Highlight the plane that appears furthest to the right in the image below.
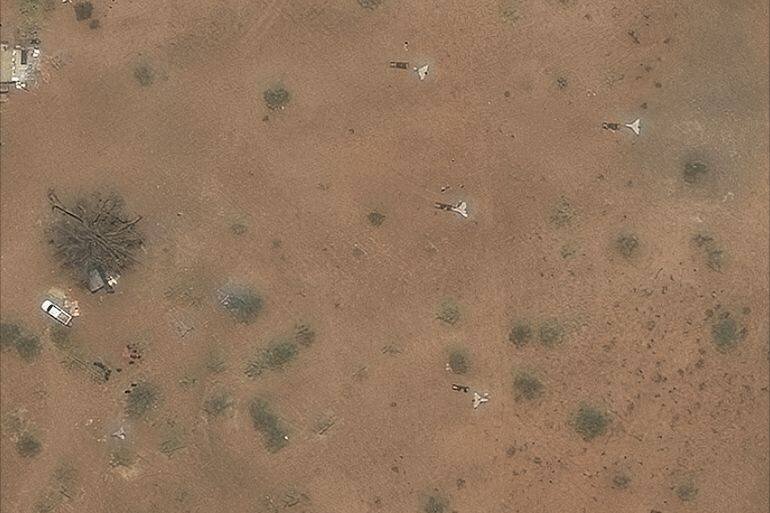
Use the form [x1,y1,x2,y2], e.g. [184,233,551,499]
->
[626,119,642,135]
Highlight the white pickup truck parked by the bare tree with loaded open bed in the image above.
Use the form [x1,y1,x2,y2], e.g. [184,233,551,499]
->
[39,302,72,329]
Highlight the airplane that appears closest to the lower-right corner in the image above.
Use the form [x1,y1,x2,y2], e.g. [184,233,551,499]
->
[472,393,489,408]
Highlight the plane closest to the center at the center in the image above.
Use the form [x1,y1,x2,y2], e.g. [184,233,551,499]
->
[451,202,468,217]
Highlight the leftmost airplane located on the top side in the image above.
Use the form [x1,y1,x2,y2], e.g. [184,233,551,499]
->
[415,65,431,80]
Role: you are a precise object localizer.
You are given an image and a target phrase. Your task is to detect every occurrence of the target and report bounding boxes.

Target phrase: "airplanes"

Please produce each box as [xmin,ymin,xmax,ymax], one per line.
[451,202,468,217]
[415,65,431,80]
[112,427,125,439]
[626,119,642,135]
[472,393,489,408]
